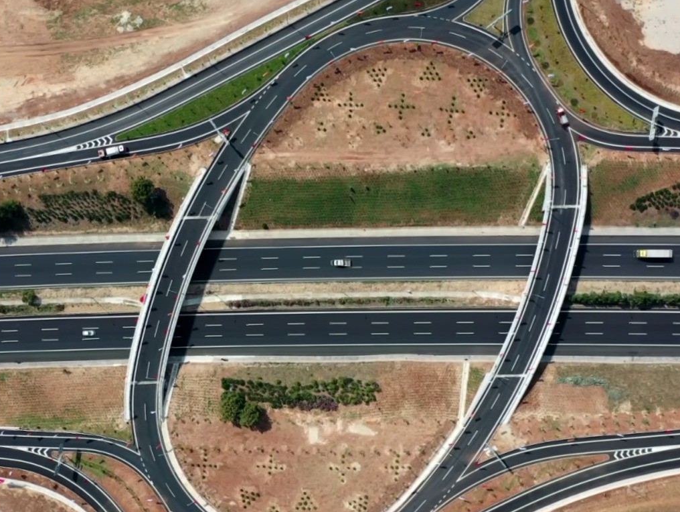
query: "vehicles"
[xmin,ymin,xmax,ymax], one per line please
[98,146,126,158]
[632,249,673,259]
[554,107,568,127]
[334,260,352,266]
[83,330,95,336]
